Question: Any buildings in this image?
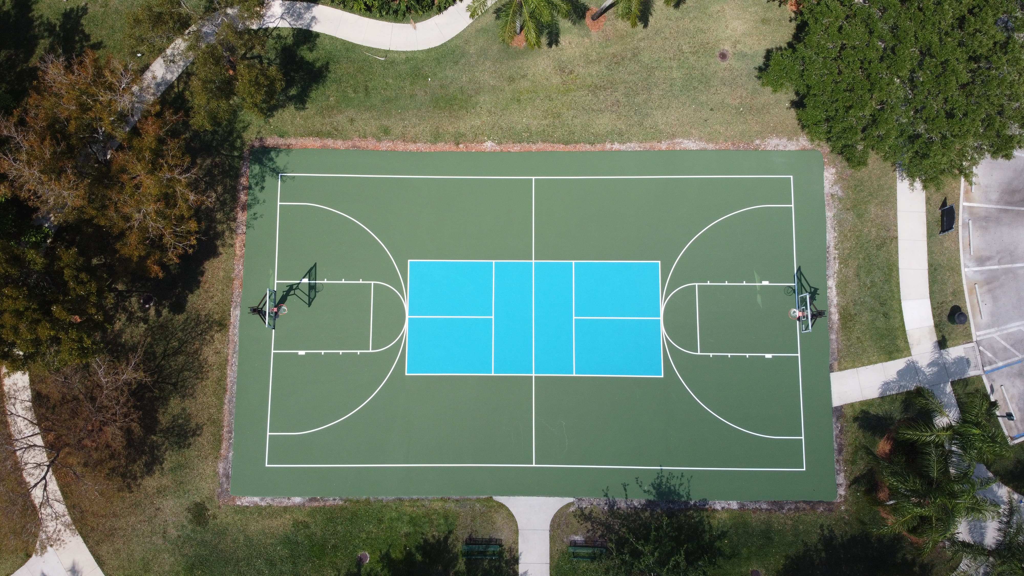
No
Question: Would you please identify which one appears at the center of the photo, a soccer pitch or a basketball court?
basketball court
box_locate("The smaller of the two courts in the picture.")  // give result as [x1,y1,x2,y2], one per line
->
[406,260,663,377]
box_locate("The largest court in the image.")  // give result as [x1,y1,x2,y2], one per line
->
[230,148,838,502]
